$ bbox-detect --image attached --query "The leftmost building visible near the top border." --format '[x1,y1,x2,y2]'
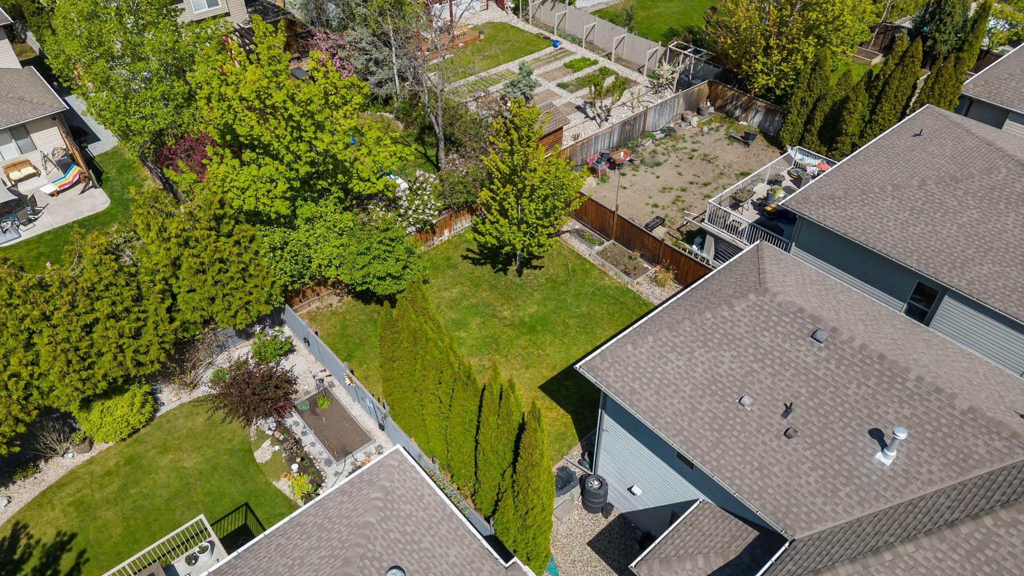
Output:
[0,7,78,183]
